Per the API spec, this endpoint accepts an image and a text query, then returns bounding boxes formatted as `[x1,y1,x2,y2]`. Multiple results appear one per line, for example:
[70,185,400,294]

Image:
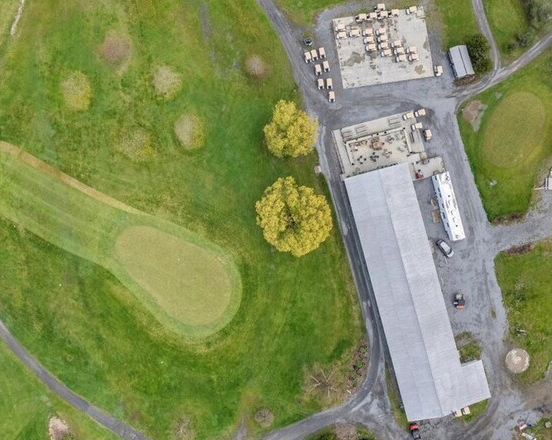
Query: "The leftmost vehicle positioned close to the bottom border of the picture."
[409,423,421,440]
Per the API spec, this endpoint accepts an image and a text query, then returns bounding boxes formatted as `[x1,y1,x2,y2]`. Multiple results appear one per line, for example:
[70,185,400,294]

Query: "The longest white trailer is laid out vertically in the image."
[433,170,464,240]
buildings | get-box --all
[447,45,474,79]
[343,162,491,421]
